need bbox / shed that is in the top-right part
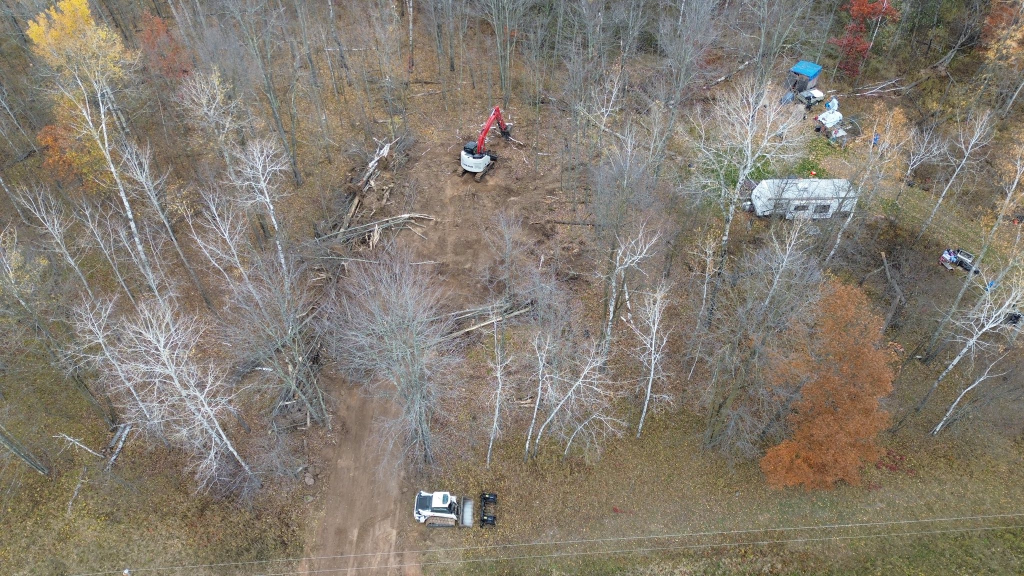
[792,59,827,93]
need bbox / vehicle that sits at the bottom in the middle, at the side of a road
[409,486,476,529]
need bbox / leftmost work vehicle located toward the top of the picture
[452,103,514,184]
